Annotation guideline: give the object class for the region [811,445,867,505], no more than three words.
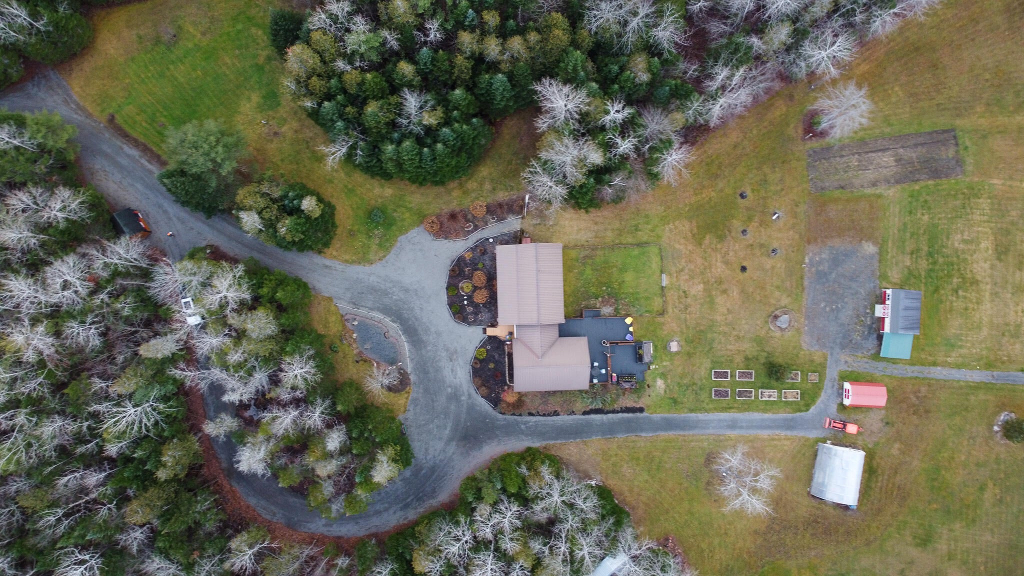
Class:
building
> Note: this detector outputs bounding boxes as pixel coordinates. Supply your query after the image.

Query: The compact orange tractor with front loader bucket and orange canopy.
[822,415,863,437]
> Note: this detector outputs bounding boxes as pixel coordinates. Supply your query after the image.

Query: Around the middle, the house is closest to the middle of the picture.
[496,237,591,392]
